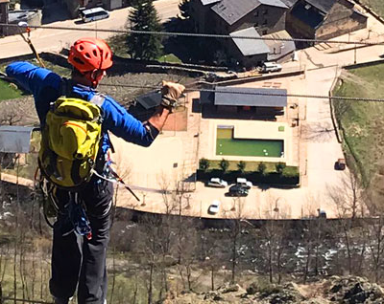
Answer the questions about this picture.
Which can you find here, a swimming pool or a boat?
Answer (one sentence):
It is a swimming pool that can be seen here.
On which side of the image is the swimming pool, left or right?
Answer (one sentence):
You can find the swimming pool on the right side of the picture.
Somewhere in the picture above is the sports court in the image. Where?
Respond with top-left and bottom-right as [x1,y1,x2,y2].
[166,102,189,131]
